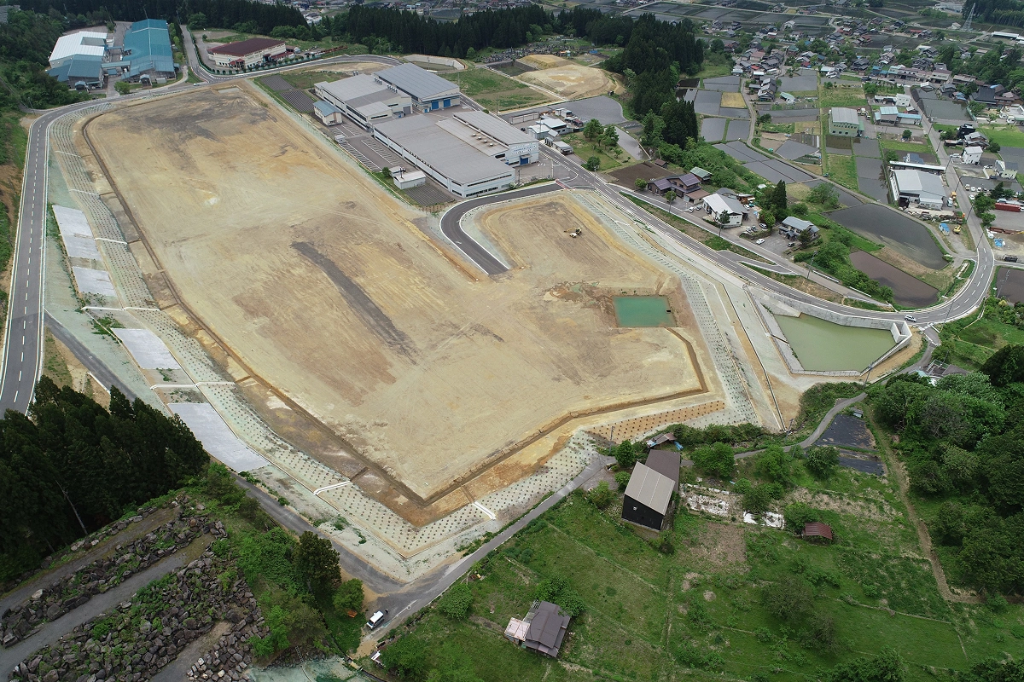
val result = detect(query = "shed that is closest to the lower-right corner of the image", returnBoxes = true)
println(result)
[800,522,833,549]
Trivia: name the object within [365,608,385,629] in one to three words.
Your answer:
vehicle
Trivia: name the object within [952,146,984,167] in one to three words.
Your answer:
house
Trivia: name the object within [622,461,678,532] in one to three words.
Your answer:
barn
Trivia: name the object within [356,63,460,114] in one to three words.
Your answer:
building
